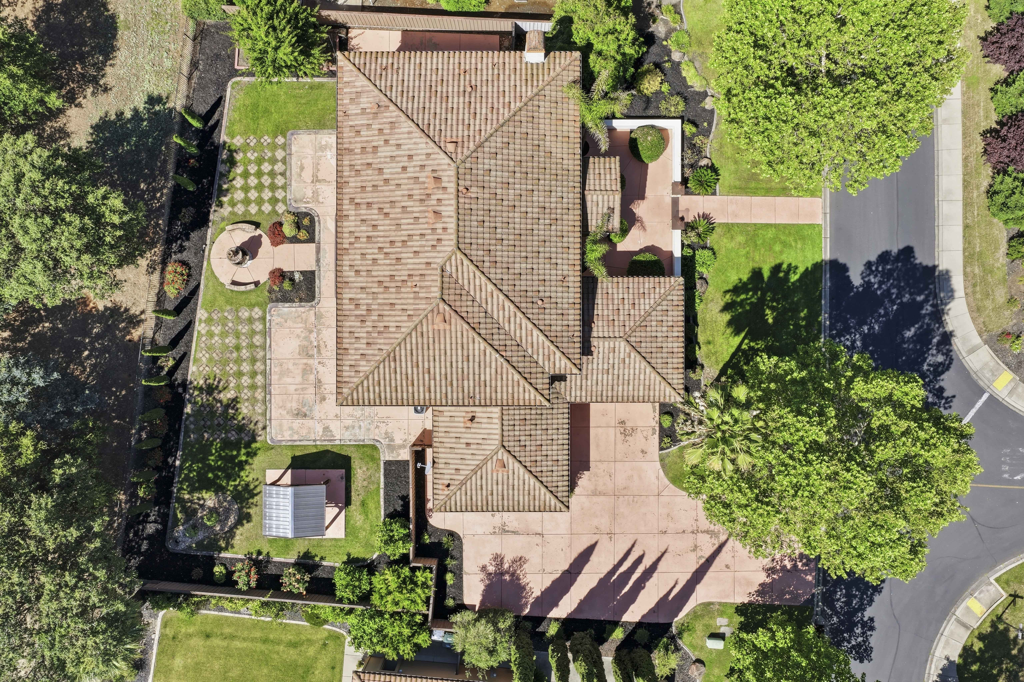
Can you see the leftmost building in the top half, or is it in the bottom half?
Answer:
bottom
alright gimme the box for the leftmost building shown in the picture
[263,482,330,538]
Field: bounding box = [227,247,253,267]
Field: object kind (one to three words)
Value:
fountain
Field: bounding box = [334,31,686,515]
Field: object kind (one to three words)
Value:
house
